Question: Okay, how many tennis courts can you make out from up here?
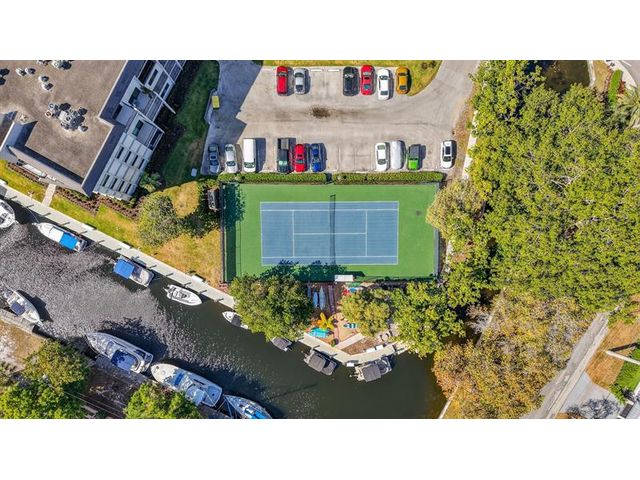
1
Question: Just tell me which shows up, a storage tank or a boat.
boat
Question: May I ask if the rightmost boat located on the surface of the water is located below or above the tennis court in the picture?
below it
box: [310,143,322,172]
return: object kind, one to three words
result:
vehicle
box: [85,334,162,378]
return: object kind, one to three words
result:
boat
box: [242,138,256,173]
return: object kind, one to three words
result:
vehicle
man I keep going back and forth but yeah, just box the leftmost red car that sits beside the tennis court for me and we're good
[294,144,307,173]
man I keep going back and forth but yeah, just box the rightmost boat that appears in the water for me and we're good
[352,356,392,380]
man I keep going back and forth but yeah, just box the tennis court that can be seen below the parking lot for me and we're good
[224,184,434,283]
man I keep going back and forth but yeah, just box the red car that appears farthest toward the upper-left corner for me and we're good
[276,66,289,95]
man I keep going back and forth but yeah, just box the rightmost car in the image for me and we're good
[440,141,454,169]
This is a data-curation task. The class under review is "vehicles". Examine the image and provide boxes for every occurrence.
[375,143,388,172]
[406,142,420,171]
[293,69,306,96]
[242,138,256,173]
[361,66,374,94]
[440,141,454,169]
[225,144,238,173]
[310,143,322,172]
[276,66,289,95]
[276,138,290,173]
[207,144,221,173]
[377,69,390,100]
[342,67,356,96]
[294,144,307,173]
[396,68,409,94]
